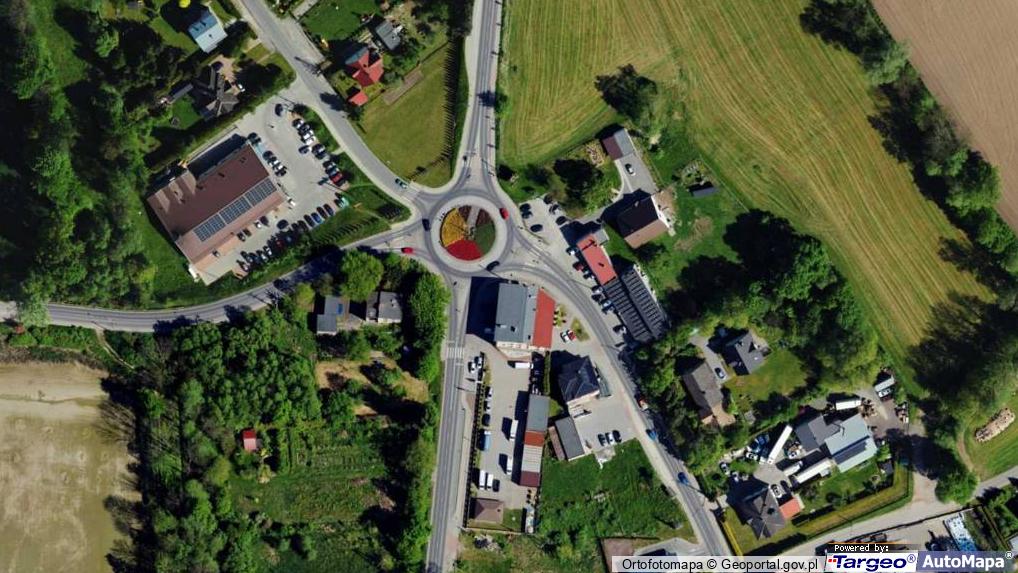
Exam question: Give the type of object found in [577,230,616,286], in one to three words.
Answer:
building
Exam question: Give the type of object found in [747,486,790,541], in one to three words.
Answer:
house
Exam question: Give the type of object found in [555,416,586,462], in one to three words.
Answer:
shed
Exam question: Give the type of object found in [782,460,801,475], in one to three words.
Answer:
vehicle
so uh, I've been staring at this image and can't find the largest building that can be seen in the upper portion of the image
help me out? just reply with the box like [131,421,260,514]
[147,143,287,265]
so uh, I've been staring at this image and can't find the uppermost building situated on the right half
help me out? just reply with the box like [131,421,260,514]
[603,130,633,161]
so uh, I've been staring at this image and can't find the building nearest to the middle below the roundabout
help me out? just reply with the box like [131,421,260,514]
[495,283,556,362]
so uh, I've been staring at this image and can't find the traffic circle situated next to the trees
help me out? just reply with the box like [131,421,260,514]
[422,186,516,280]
